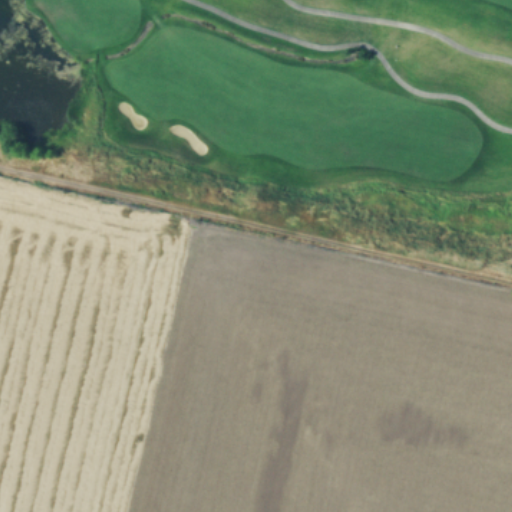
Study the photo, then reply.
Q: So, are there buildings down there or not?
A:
No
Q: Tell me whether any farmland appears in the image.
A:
Yes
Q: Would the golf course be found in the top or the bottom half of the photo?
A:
top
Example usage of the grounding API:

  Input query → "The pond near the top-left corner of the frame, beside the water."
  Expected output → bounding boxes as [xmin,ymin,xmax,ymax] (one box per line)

[0,0,84,153]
